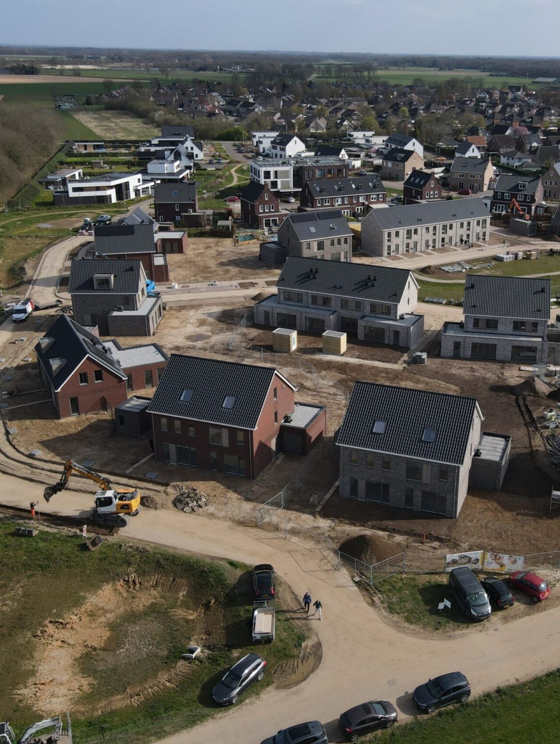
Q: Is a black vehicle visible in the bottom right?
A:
Yes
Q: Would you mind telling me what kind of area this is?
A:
residential area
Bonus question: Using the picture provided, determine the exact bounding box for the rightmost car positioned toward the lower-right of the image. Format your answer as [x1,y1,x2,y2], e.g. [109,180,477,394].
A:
[506,566,558,604]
